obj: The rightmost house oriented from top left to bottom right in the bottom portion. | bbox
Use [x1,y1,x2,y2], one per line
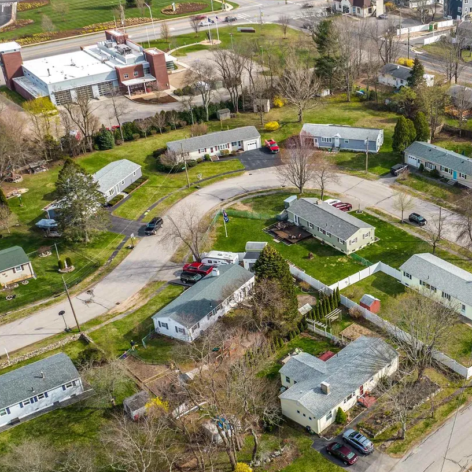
[399,255,472,319]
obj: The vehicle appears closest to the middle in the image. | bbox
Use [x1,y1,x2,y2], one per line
[202,248,240,268]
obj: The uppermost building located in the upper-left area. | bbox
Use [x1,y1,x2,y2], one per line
[0,28,187,112]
